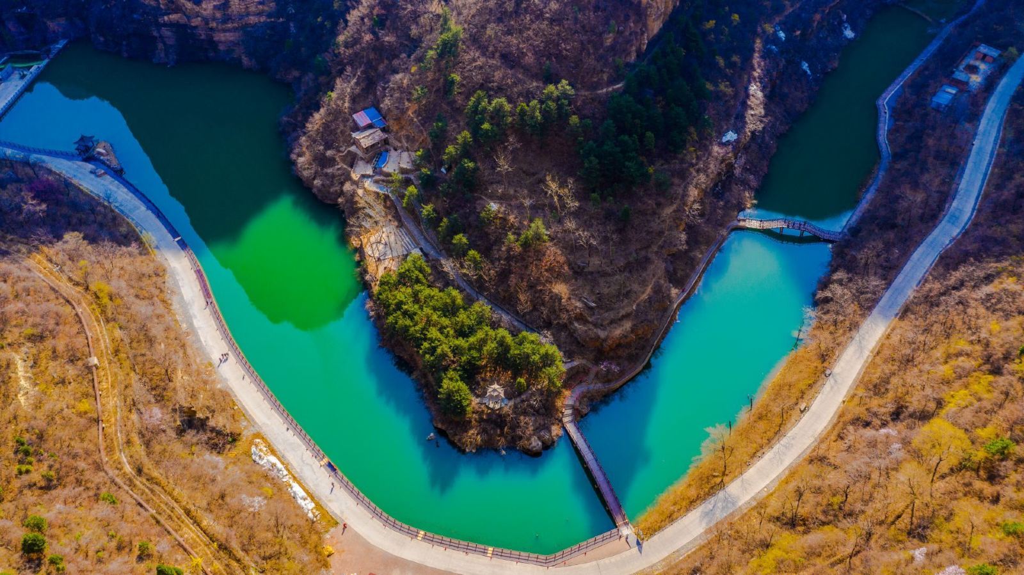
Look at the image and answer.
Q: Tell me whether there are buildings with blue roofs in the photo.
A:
Yes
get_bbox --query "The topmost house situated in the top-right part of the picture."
[972,44,1001,67]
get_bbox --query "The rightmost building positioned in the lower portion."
[482,382,508,413]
